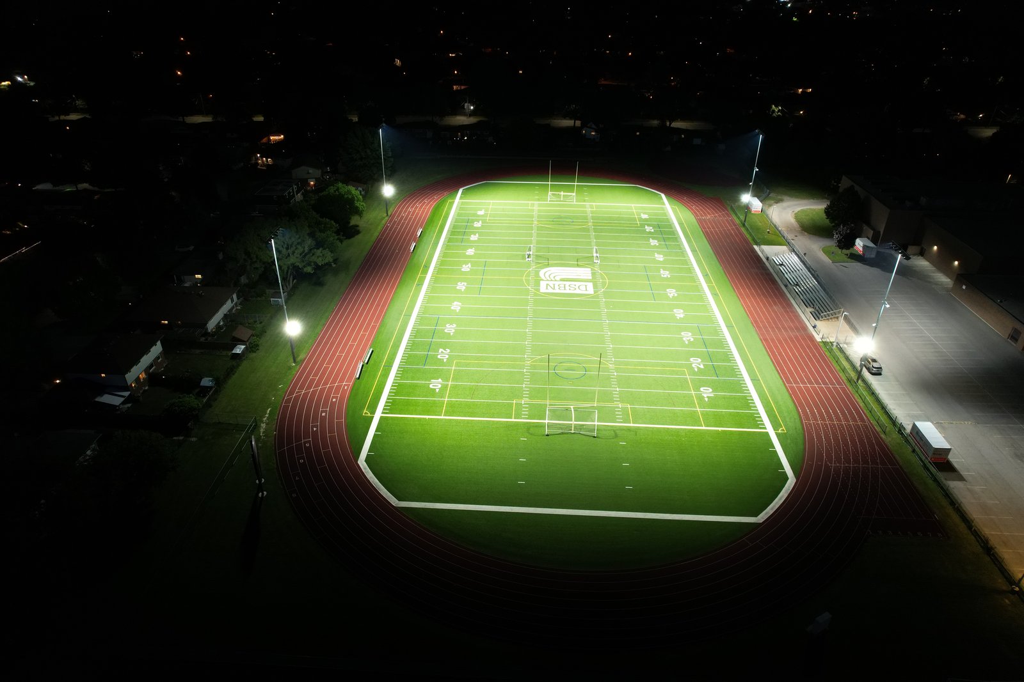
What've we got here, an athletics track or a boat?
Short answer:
athletics track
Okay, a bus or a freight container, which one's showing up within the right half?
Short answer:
freight container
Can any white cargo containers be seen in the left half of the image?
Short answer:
No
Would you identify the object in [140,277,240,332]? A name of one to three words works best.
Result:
house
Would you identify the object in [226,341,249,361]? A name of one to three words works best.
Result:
shed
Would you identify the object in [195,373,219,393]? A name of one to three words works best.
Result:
shed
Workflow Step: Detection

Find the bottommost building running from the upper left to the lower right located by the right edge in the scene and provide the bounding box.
[836,176,1024,356]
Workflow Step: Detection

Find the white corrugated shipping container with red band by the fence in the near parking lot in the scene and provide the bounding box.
[910,421,954,462]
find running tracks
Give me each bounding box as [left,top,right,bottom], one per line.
[271,165,954,663]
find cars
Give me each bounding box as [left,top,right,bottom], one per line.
[860,357,884,373]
